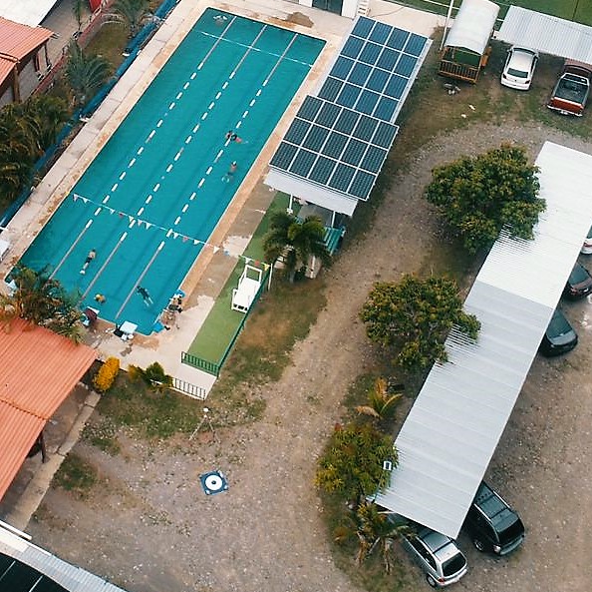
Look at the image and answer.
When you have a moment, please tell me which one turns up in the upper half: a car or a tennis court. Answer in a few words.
car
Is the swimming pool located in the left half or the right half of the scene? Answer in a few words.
left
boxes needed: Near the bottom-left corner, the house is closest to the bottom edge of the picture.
[0,515,125,592]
